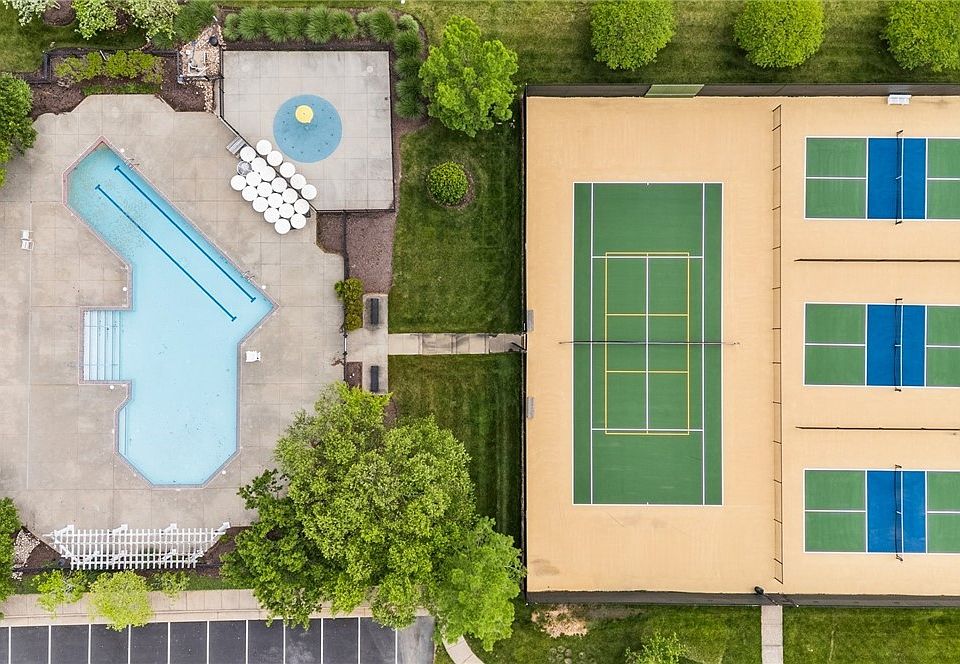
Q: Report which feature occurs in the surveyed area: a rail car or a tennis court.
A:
tennis court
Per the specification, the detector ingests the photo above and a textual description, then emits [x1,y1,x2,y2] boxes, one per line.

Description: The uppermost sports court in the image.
[805,137,960,219]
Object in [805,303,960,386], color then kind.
green sports court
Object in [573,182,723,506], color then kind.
green tennis court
